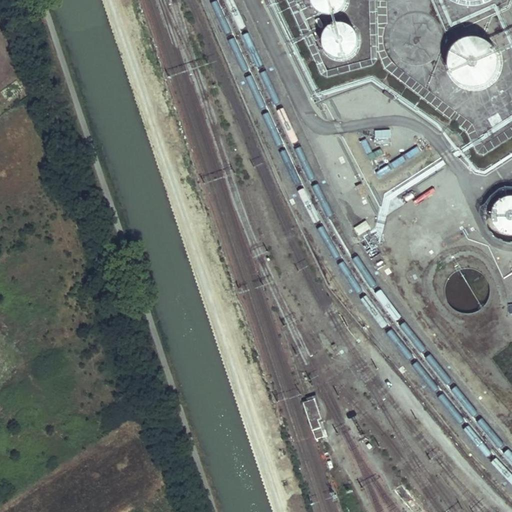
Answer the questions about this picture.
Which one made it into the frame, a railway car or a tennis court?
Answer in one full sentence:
This aerial view contains a railway car.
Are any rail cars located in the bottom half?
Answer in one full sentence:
Yes, a rail car is visible in the bottom half.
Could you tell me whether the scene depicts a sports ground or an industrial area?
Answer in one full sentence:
This image shows an industrial area.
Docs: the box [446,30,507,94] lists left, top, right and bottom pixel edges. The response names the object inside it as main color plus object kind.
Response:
white storage tank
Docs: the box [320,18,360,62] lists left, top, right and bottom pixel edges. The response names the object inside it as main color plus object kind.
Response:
white storage tank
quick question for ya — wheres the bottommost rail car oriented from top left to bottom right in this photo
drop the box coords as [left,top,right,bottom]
[492,459,512,486]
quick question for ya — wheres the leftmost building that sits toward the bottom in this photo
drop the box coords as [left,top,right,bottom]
[302,398,327,442]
